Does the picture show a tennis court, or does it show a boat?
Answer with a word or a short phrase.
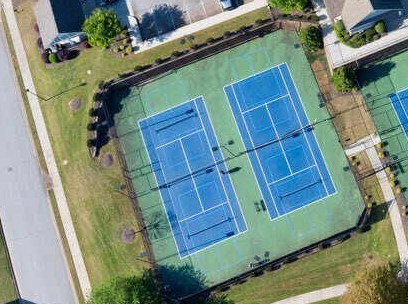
tennis court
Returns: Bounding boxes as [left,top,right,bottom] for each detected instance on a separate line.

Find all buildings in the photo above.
[324,0,404,35]
[34,0,90,48]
